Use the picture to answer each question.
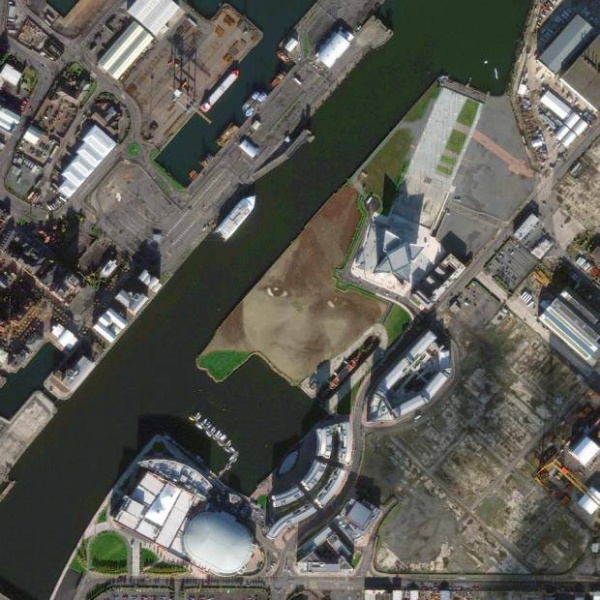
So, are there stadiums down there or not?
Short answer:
Yes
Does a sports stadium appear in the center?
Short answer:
No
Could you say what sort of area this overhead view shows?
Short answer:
port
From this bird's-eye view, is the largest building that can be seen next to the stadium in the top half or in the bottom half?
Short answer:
bottom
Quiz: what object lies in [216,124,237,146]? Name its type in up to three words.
ship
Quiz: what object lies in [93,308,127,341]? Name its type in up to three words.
building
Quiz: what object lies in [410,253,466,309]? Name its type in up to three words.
building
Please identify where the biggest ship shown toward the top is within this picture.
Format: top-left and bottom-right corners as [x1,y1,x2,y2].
[217,196,255,240]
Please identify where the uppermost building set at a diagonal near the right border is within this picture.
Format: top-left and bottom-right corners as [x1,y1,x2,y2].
[539,14,592,76]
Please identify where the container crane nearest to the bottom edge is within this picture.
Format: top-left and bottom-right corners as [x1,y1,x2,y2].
[535,452,600,508]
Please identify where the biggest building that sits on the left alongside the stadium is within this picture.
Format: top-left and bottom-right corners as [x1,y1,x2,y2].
[108,469,205,560]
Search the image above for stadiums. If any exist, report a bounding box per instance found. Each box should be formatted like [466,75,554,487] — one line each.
[183,510,254,581]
